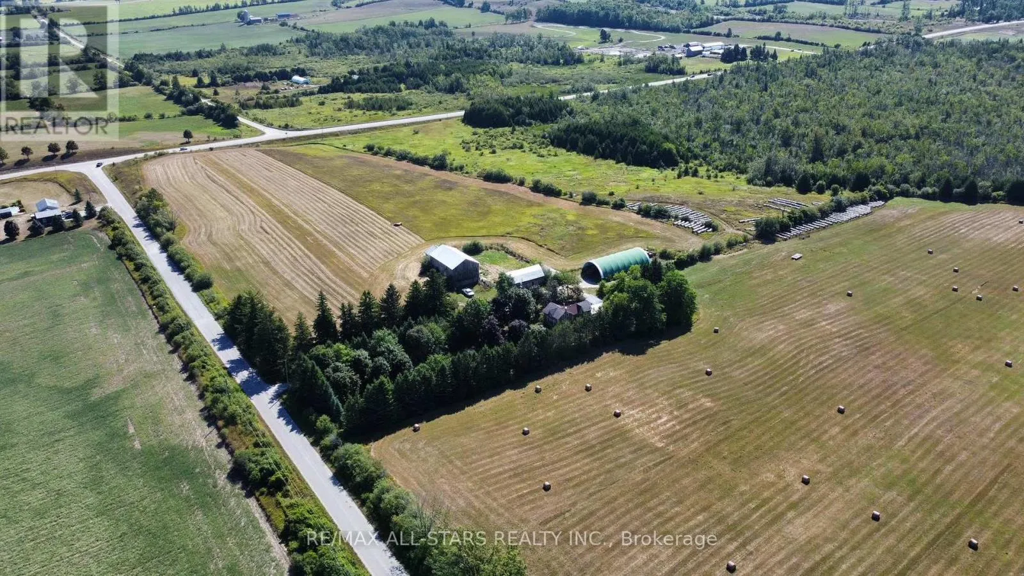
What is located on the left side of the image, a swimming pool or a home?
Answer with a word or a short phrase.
home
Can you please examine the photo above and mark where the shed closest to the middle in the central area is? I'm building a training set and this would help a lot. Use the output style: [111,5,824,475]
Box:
[503,265,546,291]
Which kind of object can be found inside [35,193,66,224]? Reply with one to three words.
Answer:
house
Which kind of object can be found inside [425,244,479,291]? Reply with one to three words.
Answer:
barn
